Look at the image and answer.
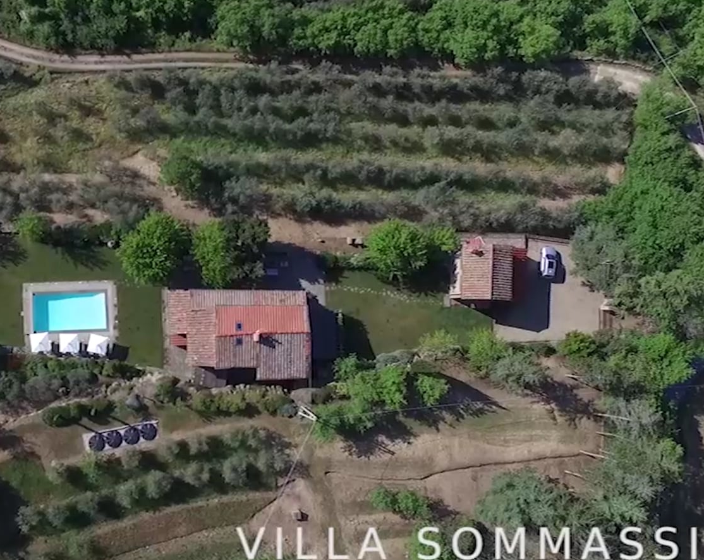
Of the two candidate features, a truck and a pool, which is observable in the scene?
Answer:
pool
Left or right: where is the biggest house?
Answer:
left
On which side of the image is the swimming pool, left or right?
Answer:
left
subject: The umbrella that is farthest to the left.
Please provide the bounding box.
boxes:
[31,332,51,354]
